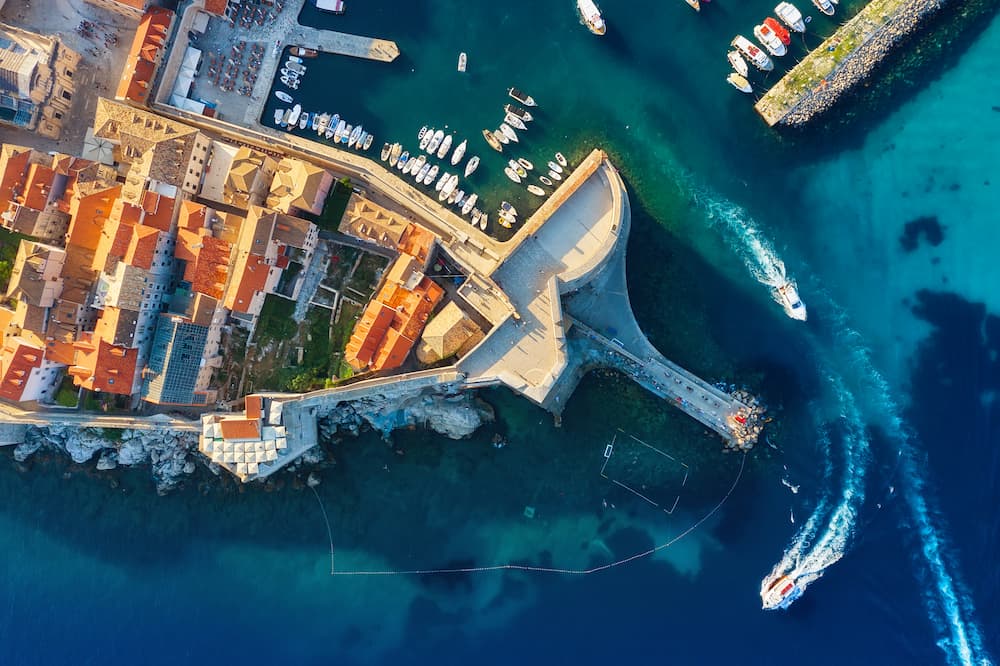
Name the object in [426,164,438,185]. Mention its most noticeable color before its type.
white boat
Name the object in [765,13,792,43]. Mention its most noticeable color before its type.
red boat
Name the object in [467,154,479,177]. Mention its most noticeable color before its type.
white boat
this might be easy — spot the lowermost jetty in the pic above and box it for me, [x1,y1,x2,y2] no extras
[562,250,749,437]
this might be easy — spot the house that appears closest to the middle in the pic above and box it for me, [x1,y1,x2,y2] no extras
[422,301,484,358]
